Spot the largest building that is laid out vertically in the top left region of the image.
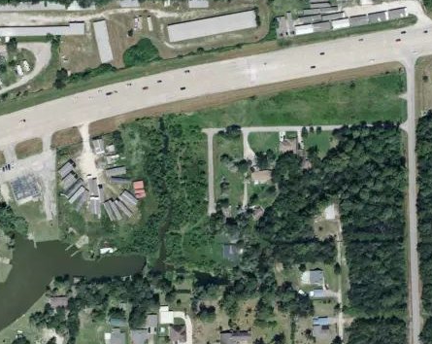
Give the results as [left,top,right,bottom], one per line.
[94,19,113,64]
